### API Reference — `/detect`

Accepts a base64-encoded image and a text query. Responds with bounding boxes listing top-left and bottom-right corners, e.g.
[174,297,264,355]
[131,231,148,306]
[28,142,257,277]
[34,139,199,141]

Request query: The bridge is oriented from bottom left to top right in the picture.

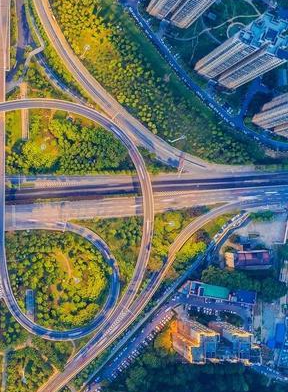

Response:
[66,219,237,392]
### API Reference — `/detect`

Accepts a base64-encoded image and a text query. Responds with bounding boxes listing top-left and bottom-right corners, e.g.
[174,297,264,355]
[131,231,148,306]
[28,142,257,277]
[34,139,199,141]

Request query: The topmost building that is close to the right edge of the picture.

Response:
[191,13,288,88]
